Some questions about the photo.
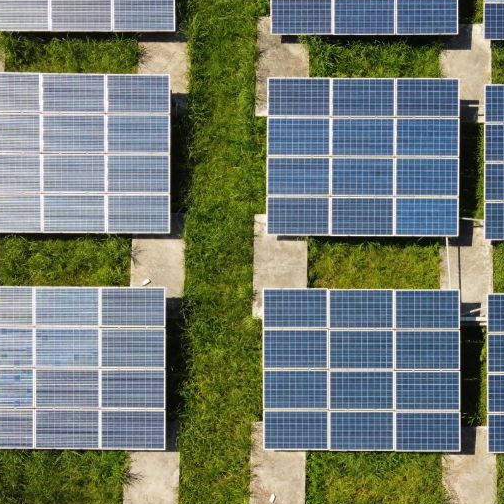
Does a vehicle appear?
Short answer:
No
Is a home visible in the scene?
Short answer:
No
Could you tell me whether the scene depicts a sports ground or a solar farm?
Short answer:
solar farm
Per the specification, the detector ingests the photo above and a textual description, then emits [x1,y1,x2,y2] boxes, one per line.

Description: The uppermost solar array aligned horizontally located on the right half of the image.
[271,0,459,39]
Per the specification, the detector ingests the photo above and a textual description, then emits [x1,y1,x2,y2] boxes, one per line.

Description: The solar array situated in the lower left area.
[0,288,168,448]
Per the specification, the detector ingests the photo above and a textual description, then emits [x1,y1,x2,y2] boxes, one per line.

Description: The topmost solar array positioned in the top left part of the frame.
[0,0,176,35]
